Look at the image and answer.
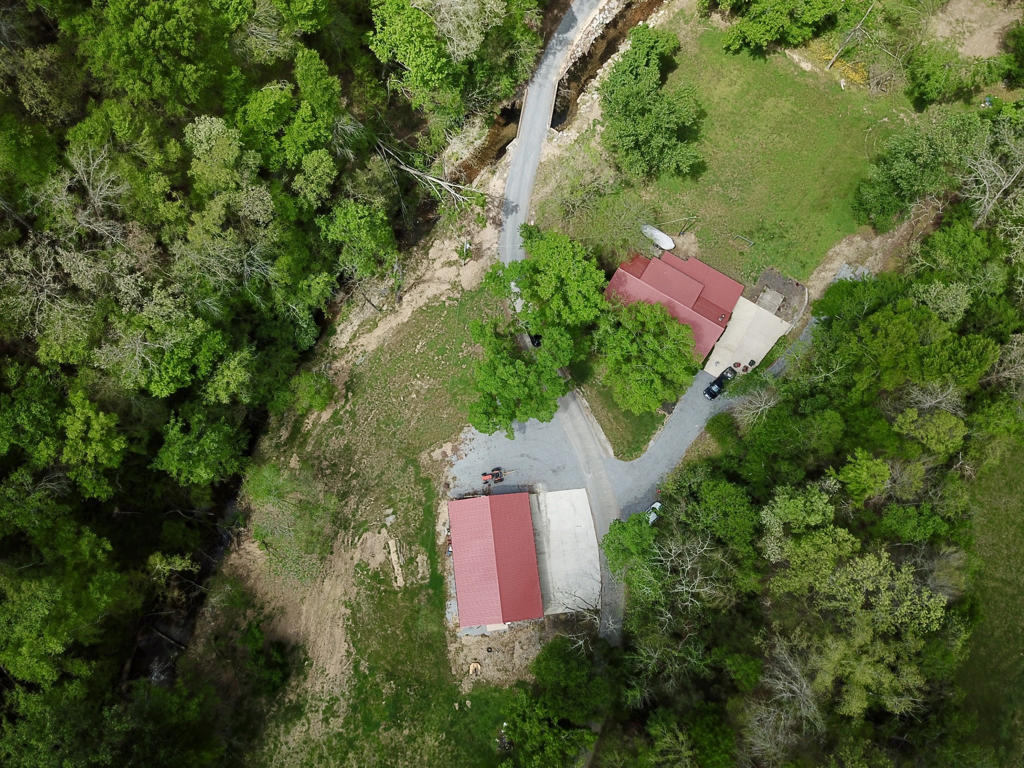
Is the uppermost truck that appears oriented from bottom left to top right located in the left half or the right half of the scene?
right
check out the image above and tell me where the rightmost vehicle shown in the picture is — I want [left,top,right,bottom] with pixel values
[703,365,736,401]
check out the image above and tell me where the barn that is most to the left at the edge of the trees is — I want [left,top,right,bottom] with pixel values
[448,493,543,633]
